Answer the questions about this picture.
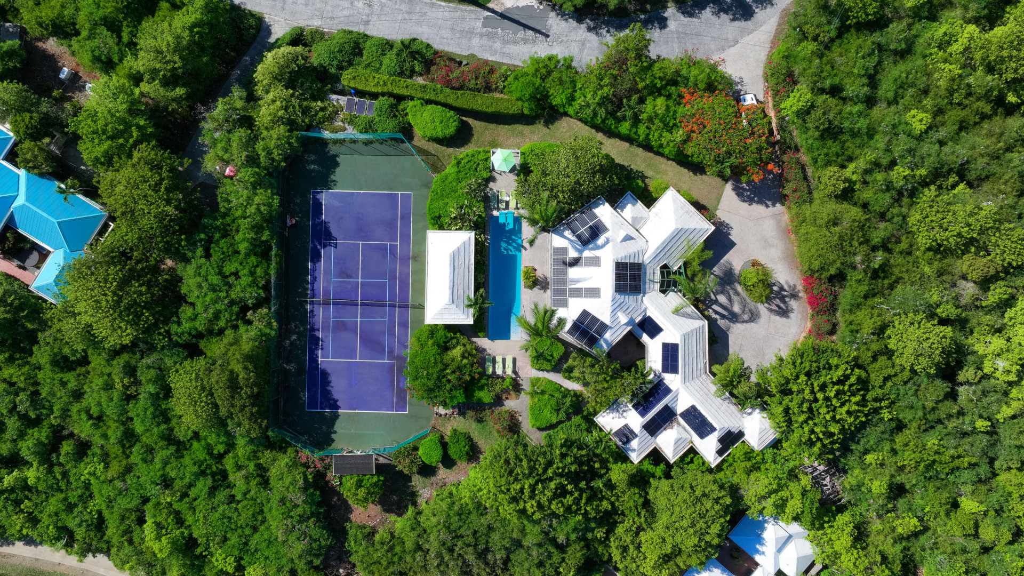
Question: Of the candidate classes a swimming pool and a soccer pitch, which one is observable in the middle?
swimming pool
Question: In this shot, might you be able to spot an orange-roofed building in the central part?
No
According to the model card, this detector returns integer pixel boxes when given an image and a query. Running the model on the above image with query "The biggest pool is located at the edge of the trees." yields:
[486,213,524,342]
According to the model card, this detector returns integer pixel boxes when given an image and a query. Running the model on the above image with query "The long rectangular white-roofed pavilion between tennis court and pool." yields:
[424,230,475,324]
